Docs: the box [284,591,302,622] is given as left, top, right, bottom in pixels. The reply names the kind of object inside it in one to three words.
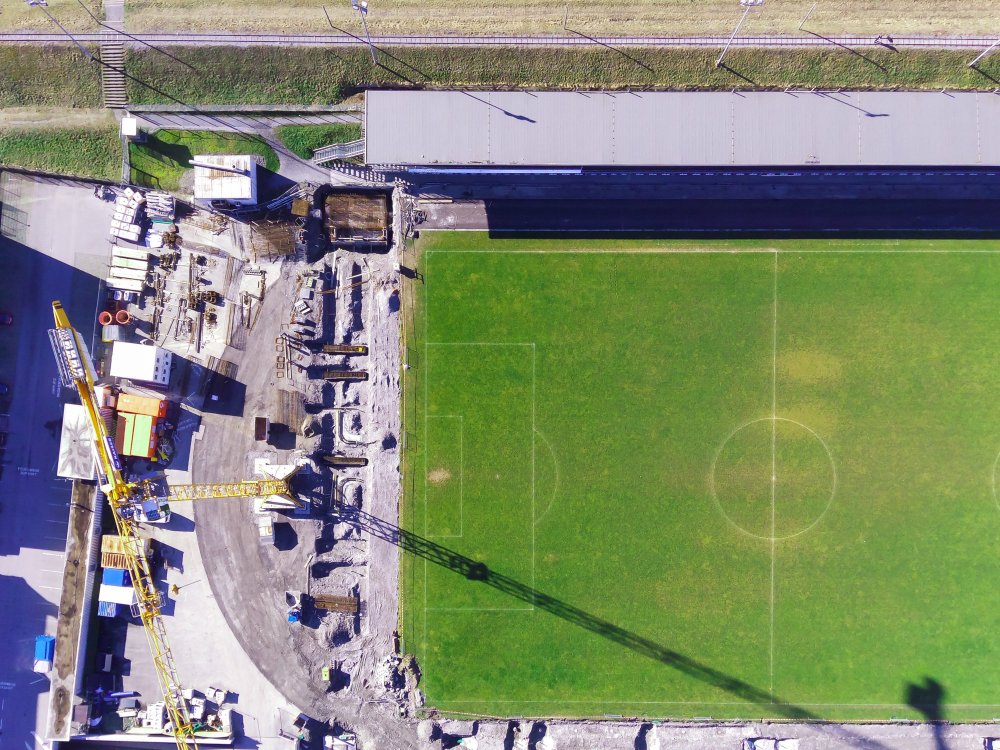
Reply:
vehicle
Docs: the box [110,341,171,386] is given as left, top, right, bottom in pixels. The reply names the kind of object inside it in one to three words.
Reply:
building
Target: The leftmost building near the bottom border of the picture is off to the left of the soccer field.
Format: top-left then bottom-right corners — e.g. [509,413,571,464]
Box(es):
[46,479,106,741]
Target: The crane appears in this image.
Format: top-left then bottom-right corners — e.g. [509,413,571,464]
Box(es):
[47,301,312,750]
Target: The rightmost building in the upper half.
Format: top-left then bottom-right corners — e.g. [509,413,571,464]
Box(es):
[186,155,257,205]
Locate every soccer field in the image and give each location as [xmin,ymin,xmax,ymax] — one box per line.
[398,231,1000,722]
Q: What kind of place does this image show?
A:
sports ground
